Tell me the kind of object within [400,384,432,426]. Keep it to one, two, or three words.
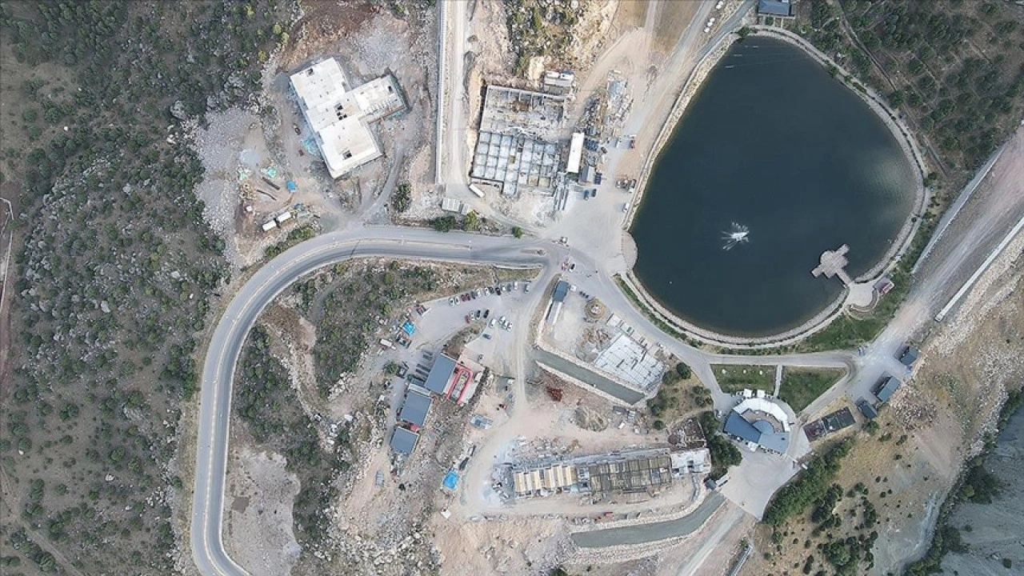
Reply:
house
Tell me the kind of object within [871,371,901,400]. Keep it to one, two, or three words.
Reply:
building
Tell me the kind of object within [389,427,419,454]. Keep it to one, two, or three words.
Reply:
house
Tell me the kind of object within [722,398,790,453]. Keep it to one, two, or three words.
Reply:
building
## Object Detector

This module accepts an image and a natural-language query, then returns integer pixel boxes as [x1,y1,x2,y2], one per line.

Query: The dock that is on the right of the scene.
[811,244,853,287]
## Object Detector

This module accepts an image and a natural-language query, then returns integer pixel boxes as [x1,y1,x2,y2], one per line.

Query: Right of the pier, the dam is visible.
[914,134,1024,324]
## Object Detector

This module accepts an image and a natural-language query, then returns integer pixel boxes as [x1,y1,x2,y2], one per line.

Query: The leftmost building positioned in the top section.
[290,58,409,178]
